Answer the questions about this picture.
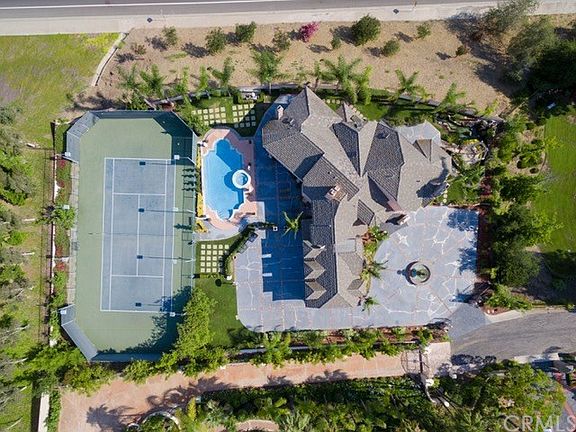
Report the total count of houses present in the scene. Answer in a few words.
1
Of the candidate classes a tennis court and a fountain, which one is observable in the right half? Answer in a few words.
fountain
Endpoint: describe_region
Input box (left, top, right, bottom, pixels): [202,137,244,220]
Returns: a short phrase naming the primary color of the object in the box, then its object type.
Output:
blue swimming pool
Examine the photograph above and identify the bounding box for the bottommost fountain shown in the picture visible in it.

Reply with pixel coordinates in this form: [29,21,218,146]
[407,260,432,286]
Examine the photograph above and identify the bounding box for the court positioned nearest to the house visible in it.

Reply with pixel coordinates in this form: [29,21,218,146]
[76,117,196,353]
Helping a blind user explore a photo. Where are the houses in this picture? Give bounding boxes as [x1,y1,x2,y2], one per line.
[263,87,452,309]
